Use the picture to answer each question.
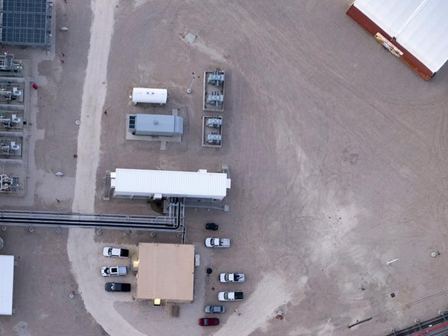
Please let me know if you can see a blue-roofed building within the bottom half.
No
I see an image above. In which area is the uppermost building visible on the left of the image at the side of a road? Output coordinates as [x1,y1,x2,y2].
[104,165,230,212]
